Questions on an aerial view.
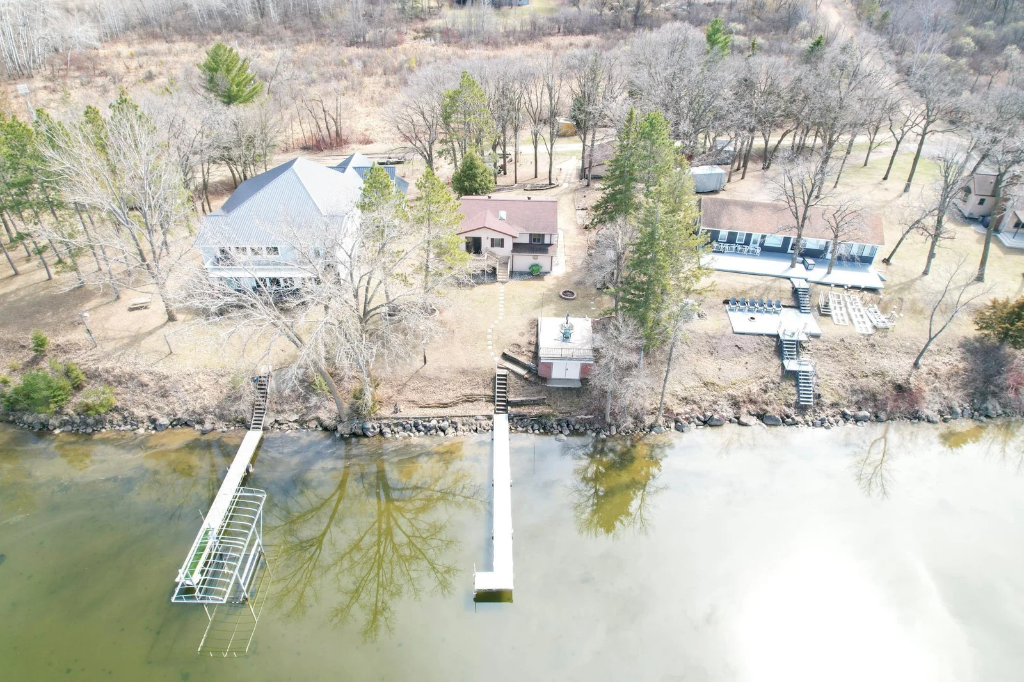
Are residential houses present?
Yes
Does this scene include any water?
Yes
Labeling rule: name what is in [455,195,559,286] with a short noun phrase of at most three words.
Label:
house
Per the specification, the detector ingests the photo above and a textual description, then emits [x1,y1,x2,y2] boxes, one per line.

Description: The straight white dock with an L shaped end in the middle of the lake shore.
[472,414,515,596]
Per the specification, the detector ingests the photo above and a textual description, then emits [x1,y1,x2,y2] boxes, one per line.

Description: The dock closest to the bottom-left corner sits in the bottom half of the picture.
[172,431,264,590]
